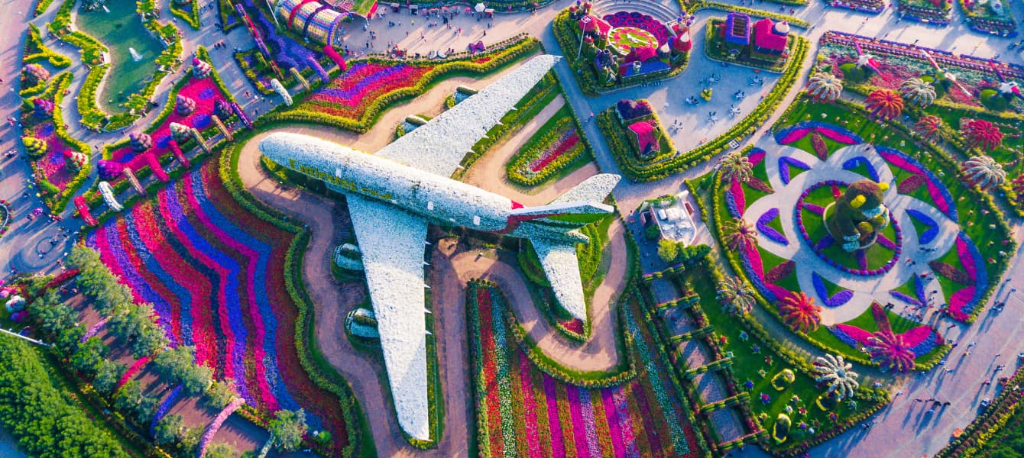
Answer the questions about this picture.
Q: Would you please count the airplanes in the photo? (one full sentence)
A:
Altogether the scene contains 1 airplane.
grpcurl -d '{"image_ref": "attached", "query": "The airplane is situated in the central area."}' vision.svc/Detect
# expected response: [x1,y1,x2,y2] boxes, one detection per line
[259,48,630,436]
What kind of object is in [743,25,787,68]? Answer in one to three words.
house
